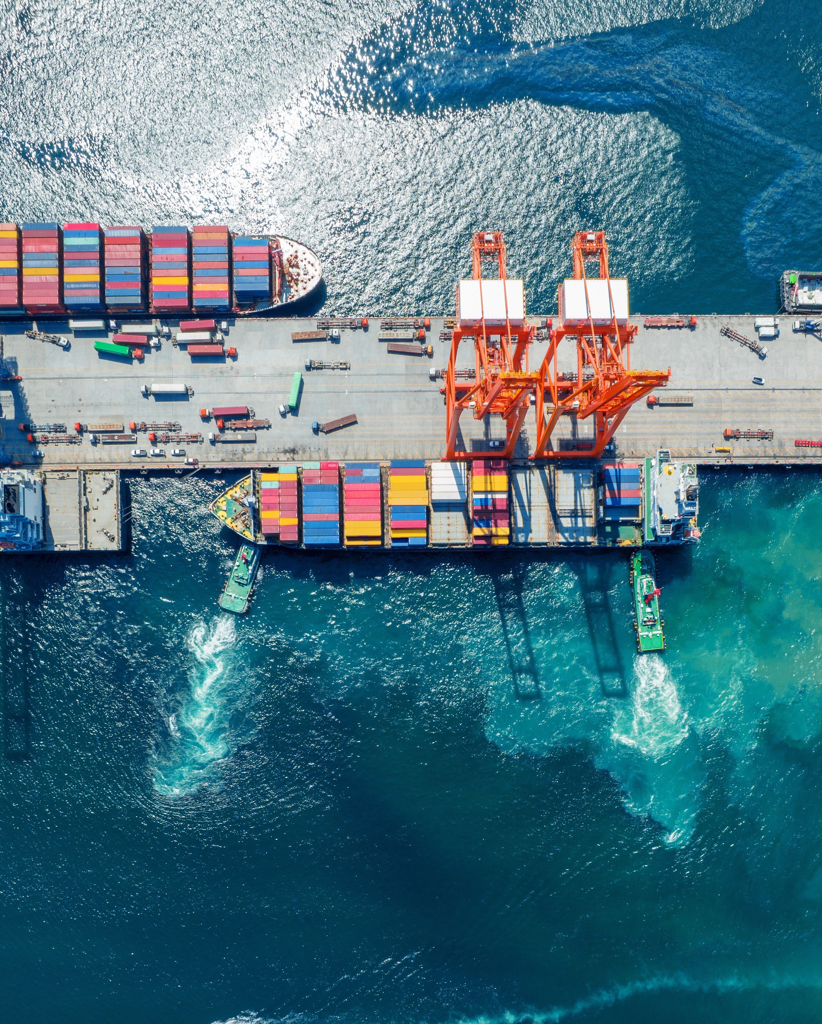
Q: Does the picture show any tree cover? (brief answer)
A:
No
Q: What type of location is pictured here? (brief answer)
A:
port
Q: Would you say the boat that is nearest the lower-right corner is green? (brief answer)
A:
Yes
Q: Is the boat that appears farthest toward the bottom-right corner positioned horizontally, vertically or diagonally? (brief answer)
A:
vertically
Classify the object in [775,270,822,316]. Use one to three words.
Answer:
ship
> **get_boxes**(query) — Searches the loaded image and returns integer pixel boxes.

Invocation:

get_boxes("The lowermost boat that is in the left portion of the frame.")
[218,535,263,616]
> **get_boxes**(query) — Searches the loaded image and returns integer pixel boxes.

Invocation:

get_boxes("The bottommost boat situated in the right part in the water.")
[632,548,669,654]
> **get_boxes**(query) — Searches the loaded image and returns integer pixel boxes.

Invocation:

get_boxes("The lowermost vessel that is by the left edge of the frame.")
[0,466,126,556]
